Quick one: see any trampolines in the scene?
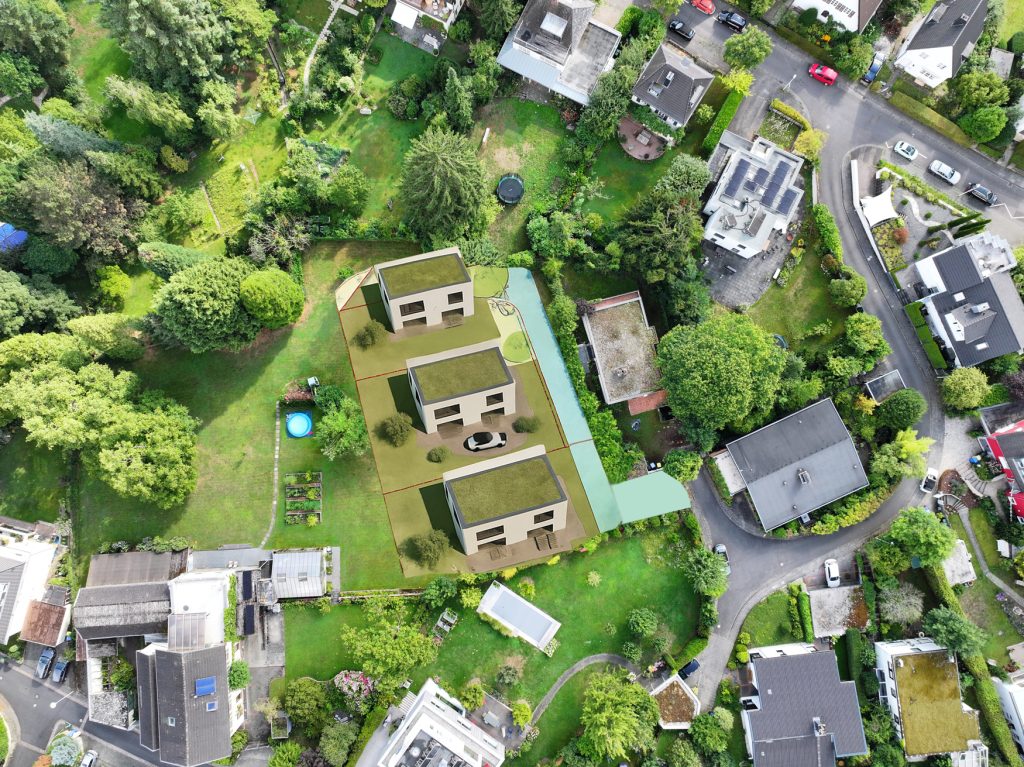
Yes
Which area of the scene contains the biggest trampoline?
top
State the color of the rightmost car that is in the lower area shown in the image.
white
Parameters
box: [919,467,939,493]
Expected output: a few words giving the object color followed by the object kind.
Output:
white car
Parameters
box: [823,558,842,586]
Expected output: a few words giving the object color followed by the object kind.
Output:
white car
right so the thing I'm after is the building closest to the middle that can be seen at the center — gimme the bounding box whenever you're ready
[406,338,515,433]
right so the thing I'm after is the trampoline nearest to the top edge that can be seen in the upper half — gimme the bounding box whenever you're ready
[498,174,524,200]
